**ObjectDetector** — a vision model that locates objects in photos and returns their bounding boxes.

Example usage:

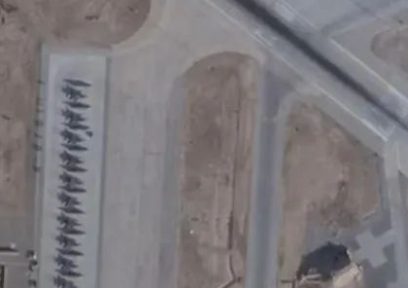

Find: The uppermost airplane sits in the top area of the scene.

[67,87,88,99]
